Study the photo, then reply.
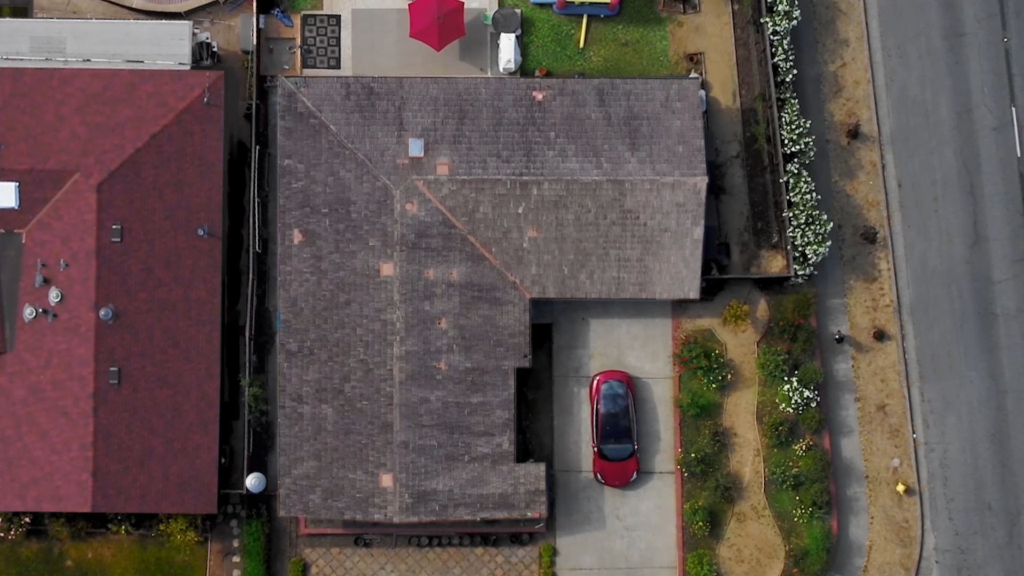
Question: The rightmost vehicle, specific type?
automobile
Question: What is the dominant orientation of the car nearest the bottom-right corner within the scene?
vertically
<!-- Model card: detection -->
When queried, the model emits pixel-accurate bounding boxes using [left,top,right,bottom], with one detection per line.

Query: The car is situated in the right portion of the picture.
[590,370,643,488]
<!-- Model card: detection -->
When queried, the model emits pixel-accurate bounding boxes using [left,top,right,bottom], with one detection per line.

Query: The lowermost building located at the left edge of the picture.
[0,68,226,513]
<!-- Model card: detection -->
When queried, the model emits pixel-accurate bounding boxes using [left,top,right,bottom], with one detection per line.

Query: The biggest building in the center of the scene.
[276,75,708,523]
